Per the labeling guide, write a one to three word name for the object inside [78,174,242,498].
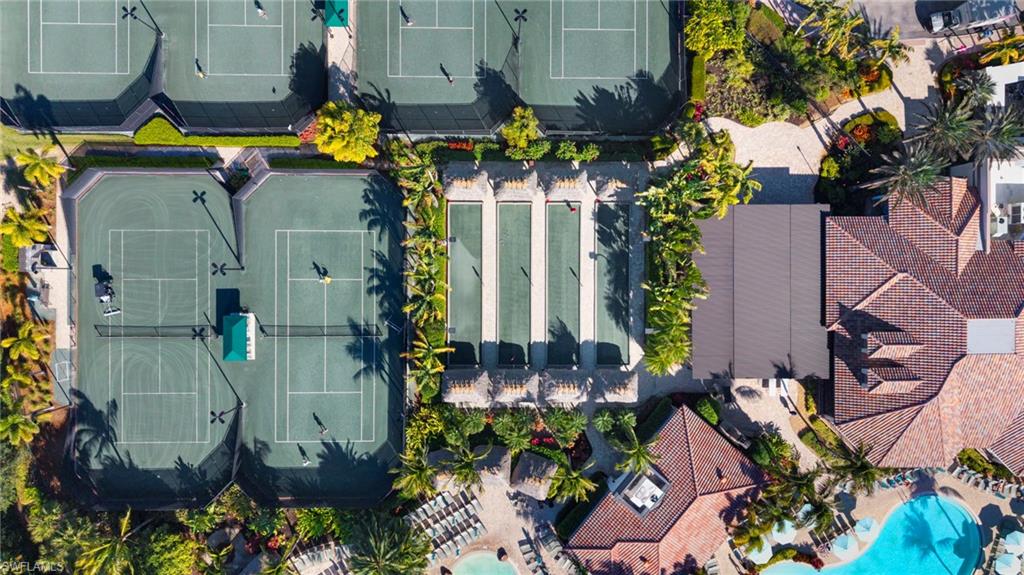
tennis court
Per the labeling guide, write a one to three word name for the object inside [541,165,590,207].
shed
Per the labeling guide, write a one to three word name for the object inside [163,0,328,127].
tennis court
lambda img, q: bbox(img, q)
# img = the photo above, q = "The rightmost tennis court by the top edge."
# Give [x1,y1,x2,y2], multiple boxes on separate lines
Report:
[518,0,678,130]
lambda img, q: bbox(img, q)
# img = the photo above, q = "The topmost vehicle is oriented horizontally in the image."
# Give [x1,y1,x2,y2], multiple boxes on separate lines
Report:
[923,0,1018,38]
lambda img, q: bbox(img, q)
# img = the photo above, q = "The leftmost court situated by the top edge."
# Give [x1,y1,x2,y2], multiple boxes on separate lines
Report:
[0,0,163,126]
